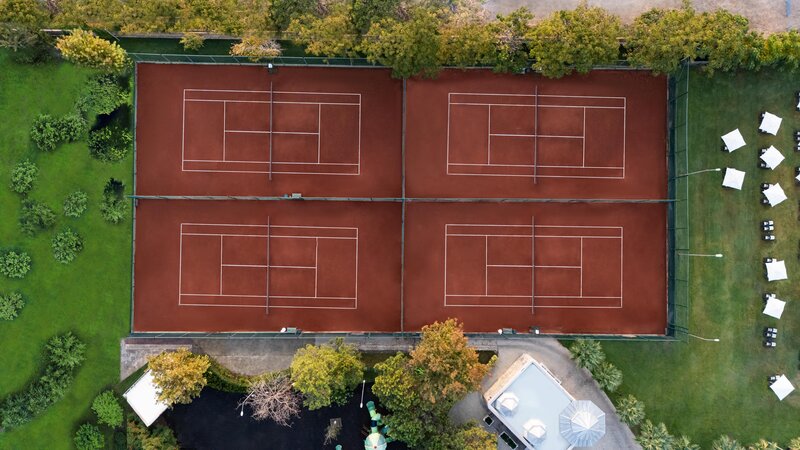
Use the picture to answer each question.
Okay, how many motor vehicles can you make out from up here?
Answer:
0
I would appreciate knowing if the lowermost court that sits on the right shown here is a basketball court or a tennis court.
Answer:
tennis court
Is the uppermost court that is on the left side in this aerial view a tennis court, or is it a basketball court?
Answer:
tennis court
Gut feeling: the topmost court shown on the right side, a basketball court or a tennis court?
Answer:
tennis court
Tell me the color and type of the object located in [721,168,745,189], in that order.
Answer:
white umbrella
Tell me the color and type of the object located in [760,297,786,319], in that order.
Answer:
white umbrella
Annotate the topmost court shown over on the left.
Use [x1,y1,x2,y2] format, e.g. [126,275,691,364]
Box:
[136,64,403,198]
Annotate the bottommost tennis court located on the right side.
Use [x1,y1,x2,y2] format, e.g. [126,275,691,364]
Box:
[403,201,667,334]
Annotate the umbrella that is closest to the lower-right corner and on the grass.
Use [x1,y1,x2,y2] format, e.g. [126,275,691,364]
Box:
[768,375,795,400]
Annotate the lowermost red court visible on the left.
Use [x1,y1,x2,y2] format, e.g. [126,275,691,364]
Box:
[134,198,402,332]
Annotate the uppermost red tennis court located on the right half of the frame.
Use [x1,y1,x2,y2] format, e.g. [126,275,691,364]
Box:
[405,66,667,200]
